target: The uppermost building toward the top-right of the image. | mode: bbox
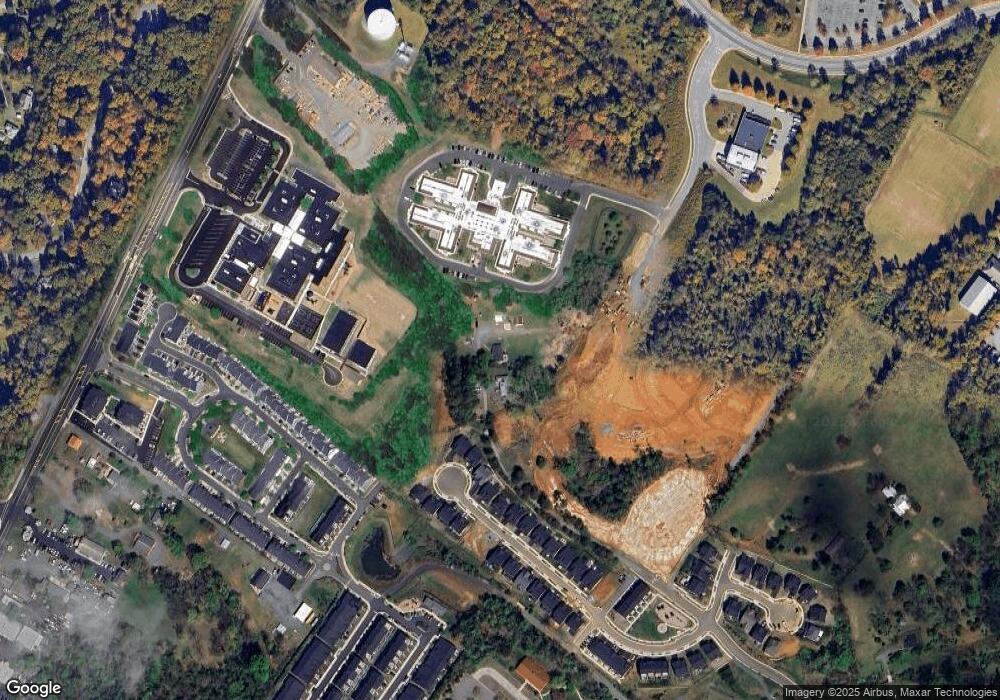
[728,111,771,171]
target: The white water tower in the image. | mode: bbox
[365,6,396,37]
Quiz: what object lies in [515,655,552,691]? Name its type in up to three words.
building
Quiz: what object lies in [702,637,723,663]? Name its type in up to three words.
house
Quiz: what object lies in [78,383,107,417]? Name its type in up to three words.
building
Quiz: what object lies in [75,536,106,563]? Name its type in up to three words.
shed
